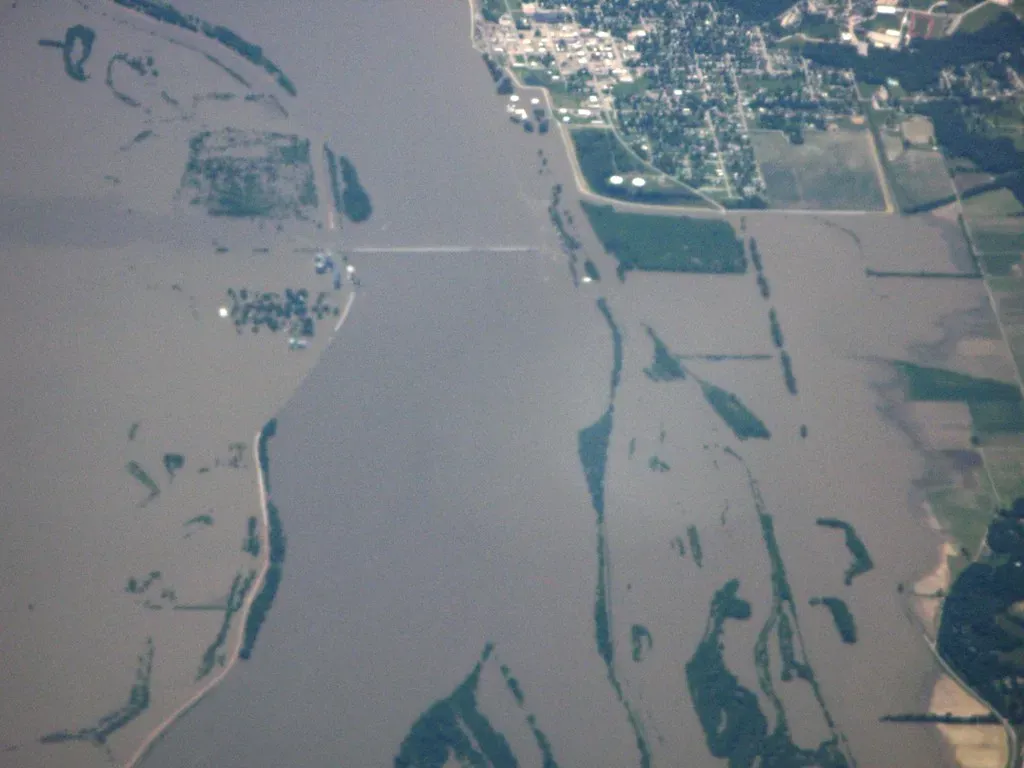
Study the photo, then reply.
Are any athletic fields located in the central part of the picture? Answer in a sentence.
No, there's no athletic field to be seen in the central part of the picture.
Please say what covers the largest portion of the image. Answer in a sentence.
The scene is dominated by water.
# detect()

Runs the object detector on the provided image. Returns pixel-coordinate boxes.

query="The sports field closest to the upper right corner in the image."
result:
[906,12,944,37]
